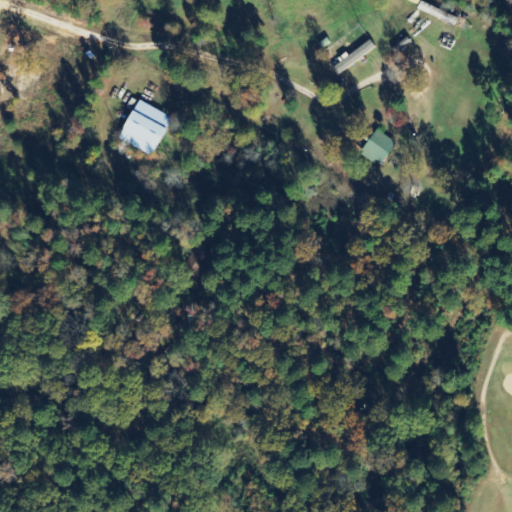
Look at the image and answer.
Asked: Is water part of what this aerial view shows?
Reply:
No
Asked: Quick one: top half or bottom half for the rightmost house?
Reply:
top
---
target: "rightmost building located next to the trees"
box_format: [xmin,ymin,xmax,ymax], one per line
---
[416,0,457,26]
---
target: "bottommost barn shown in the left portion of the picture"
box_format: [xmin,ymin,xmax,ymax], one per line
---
[119,100,167,154]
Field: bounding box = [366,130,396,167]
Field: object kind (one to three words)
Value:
house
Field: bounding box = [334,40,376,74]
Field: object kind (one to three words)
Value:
house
